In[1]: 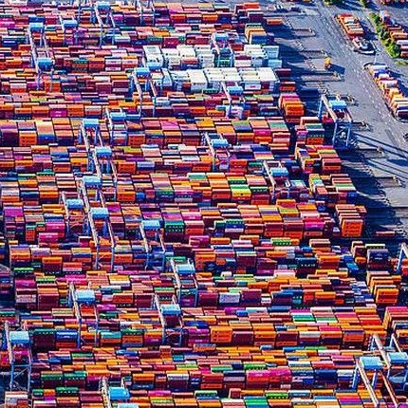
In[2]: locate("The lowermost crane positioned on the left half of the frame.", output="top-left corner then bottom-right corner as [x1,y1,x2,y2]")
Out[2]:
[103,377,132,408]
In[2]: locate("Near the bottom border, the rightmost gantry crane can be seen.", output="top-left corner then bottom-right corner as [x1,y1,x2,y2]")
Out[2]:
[375,334,408,391]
